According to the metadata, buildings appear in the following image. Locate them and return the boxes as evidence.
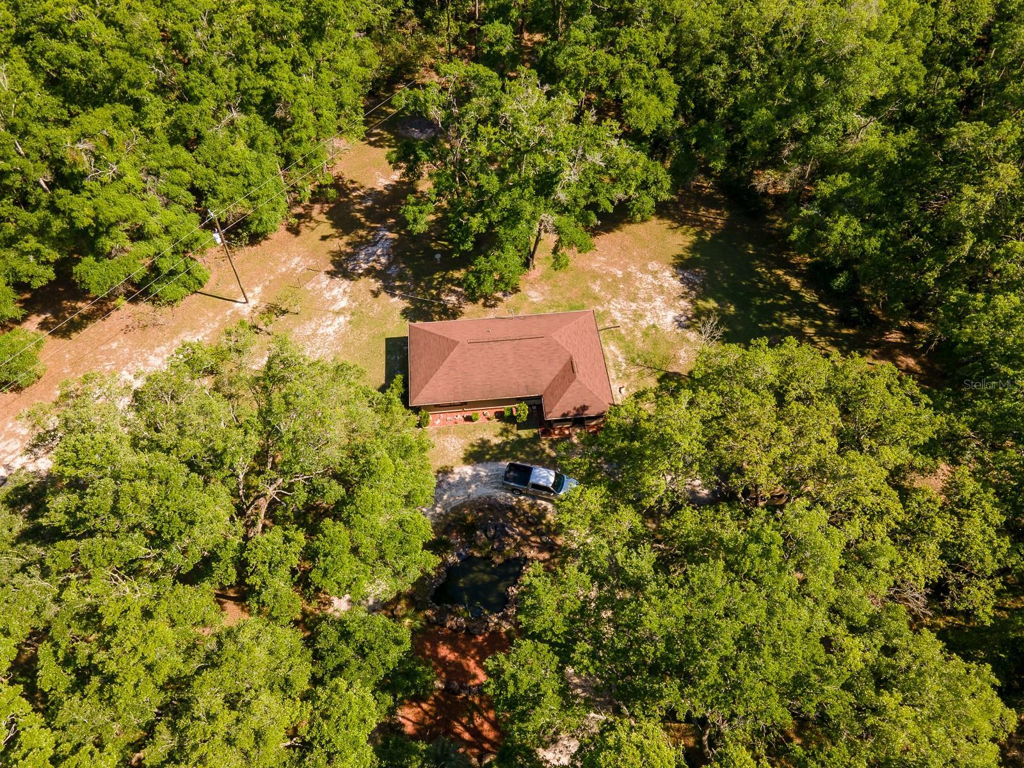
[408,301,615,425]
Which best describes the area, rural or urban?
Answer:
rural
